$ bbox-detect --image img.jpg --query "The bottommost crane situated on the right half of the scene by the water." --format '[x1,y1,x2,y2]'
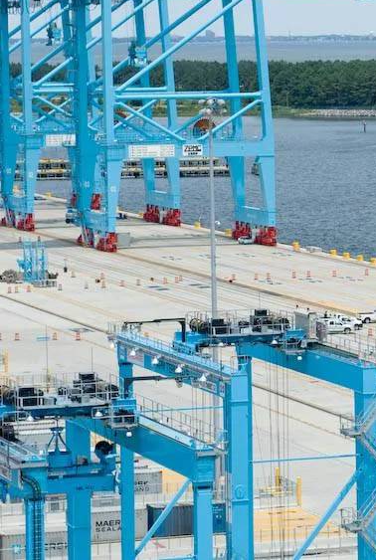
[83,263,376,560]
